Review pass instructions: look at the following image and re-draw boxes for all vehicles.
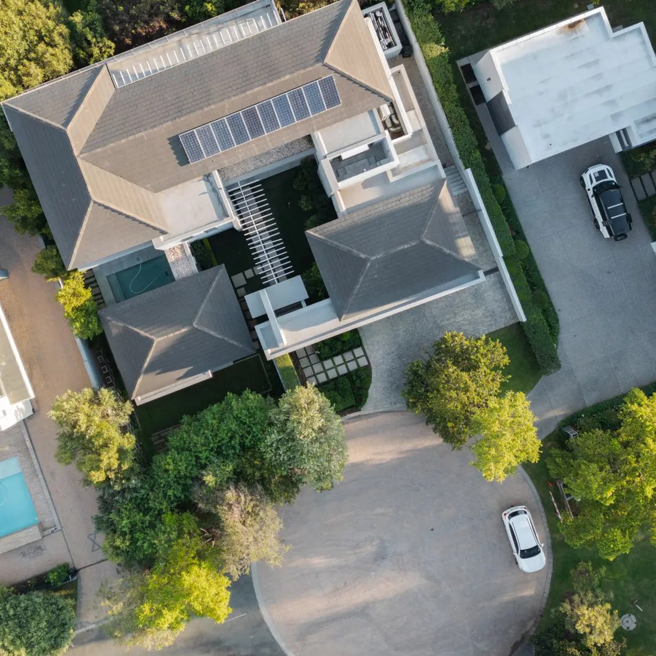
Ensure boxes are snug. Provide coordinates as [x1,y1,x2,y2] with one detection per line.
[501,504,544,573]
[580,164,634,240]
